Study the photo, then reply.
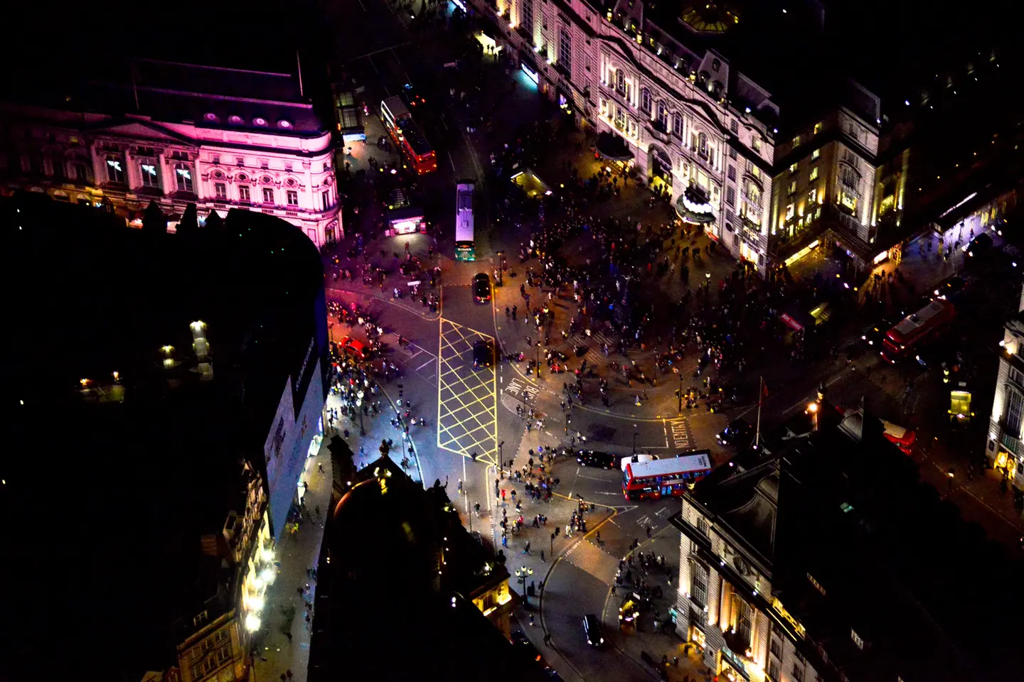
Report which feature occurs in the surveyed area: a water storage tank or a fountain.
fountain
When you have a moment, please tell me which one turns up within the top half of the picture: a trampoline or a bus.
bus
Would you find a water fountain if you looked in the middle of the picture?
Yes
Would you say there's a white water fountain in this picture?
No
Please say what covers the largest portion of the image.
buildings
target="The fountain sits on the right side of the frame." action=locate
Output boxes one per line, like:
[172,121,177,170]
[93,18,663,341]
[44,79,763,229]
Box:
[589,276,646,342]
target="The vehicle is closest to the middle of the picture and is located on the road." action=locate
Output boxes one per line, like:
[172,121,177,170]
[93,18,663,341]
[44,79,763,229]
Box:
[475,341,493,367]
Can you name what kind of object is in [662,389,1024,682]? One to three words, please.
building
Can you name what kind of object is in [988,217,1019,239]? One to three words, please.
car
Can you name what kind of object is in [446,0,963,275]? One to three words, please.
building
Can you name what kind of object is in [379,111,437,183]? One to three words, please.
bus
